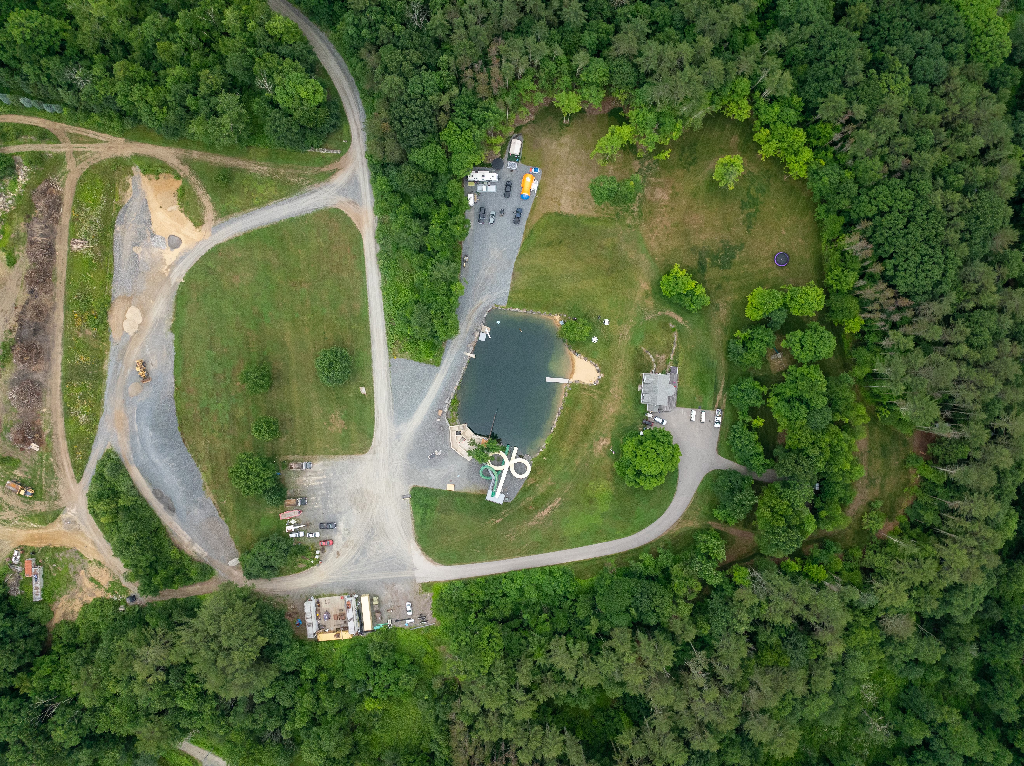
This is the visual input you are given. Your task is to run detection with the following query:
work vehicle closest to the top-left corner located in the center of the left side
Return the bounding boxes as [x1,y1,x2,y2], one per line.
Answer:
[135,358,152,382]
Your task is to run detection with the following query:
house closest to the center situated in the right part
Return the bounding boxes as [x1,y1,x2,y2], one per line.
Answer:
[640,373,679,412]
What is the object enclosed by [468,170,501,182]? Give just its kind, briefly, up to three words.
vehicle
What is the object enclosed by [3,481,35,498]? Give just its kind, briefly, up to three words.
vehicle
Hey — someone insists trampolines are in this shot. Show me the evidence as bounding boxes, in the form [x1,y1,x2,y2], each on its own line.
[491,158,504,170]
[774,252,789,266]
